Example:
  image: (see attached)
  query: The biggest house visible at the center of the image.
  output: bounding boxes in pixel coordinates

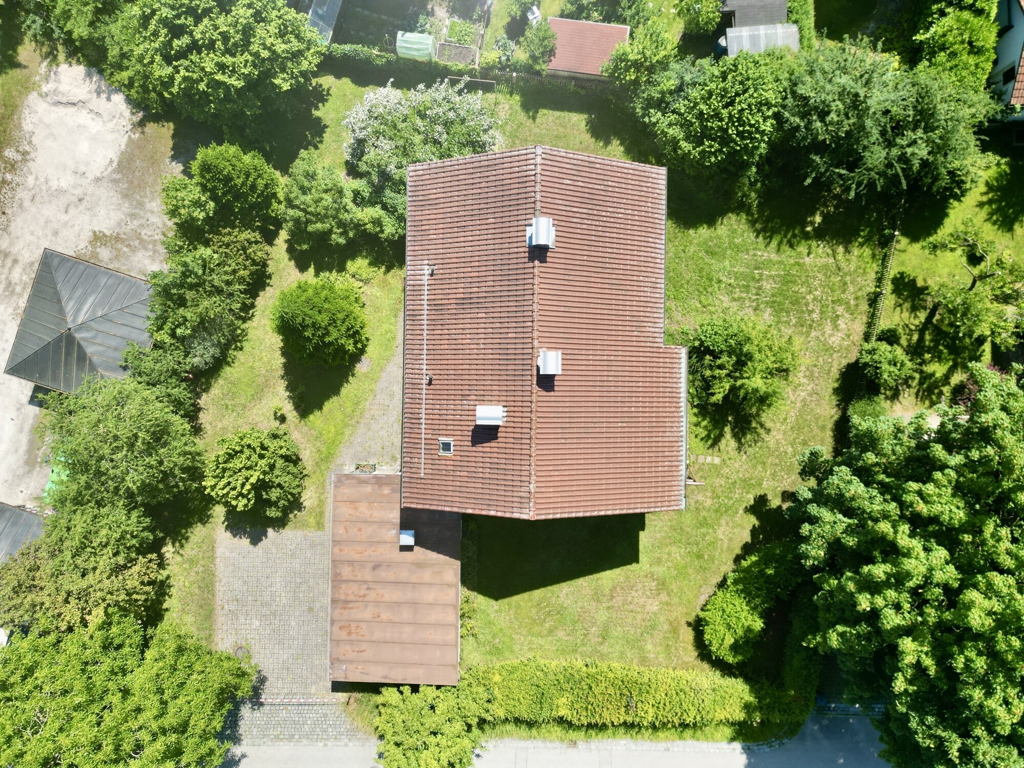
[400,145,688,521]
